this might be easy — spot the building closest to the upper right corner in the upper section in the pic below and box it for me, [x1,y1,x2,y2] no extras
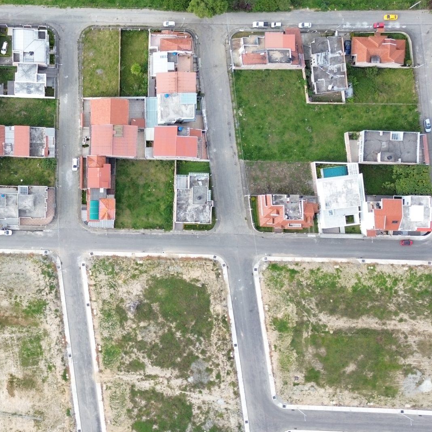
[350,27,406,66]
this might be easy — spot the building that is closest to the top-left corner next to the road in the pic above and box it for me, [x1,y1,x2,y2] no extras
[8,27,49,66]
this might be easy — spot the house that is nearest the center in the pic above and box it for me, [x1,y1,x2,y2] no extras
[175,173,213,224]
